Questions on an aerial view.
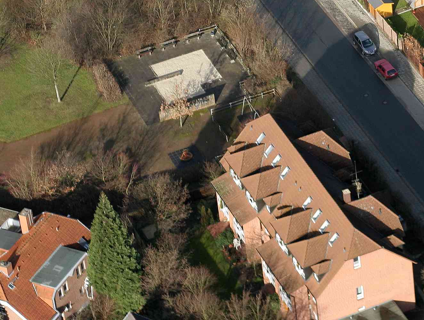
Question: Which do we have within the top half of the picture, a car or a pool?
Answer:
car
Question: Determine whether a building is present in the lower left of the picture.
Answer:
Yes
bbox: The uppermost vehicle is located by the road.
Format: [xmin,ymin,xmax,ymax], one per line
[352,28,378,56]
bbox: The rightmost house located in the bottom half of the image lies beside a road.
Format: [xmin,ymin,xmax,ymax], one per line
[210,106,422,320]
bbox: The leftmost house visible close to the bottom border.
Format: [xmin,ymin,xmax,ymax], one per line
[0,207,91,320]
